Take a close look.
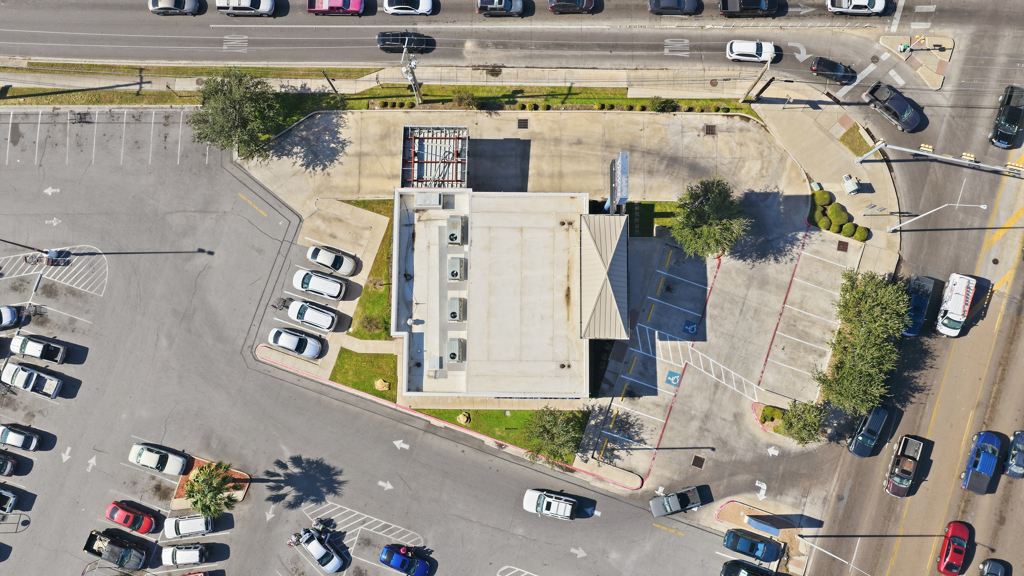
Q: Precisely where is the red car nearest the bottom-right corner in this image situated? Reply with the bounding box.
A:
[935,519,970,576]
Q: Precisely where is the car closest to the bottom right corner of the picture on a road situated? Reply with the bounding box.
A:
[979,556,1005,576]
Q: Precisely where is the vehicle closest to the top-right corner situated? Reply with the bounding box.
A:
[990,85,1024,150]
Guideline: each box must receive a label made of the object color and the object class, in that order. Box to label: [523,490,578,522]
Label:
white car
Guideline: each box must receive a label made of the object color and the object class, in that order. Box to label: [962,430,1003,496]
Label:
blue truck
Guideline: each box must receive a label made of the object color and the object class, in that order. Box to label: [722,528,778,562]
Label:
blue car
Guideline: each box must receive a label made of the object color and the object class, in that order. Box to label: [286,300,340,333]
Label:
white car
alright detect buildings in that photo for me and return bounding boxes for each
[391,188,631,400]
